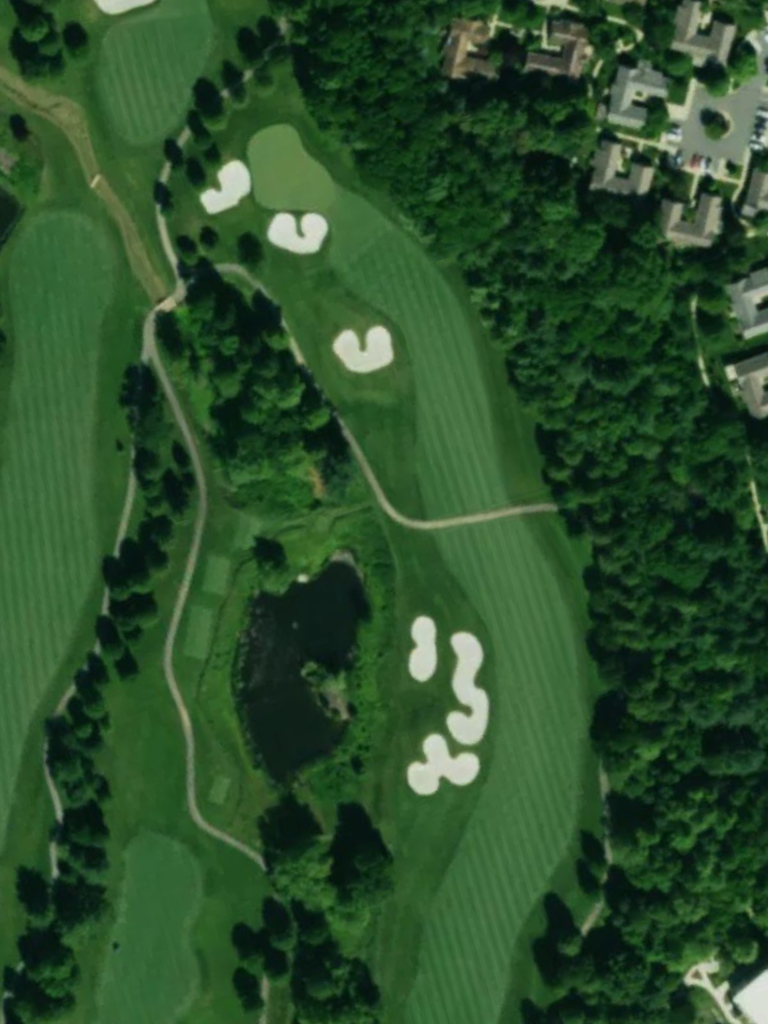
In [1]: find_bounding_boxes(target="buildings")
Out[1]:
[746,167,768,214]
[444,22,498,82]
[733,965,768,1024]
[738,356,768,416]
[593,140,654,197]
[659,191,721,245]
[526,22,590,77]
[730,271,768,336]
[676,0,735,67]
[609,59,670,127]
